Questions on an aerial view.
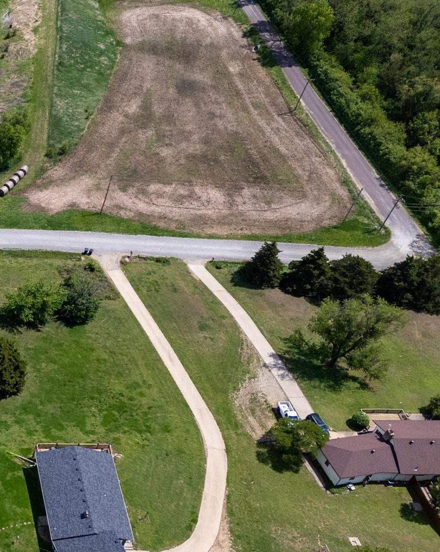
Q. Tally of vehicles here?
2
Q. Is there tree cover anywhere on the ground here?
Yes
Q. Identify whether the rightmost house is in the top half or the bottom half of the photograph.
bottom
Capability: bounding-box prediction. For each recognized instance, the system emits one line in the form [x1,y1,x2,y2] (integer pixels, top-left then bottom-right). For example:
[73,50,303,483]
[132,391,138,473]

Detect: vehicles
[271,394,304,423]
[304,410,336,437]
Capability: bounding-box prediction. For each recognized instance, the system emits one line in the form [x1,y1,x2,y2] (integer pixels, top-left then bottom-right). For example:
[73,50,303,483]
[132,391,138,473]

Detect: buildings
[319,419,440,488]
[33,447,134,552]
